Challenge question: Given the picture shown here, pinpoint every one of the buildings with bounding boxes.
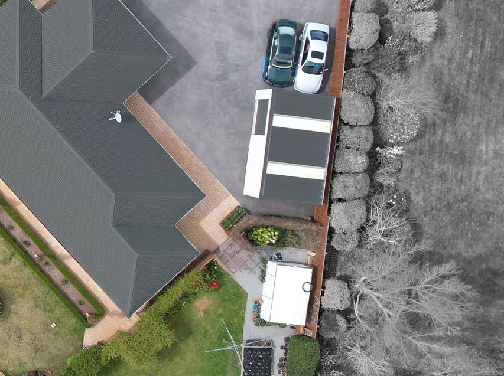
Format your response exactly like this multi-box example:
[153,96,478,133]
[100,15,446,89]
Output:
[259,263,312,326]
[246,90,338,204]
[0,0,209,319]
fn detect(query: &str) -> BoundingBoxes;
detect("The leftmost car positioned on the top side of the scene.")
[263,19,298,88]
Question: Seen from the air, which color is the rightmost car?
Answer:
white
